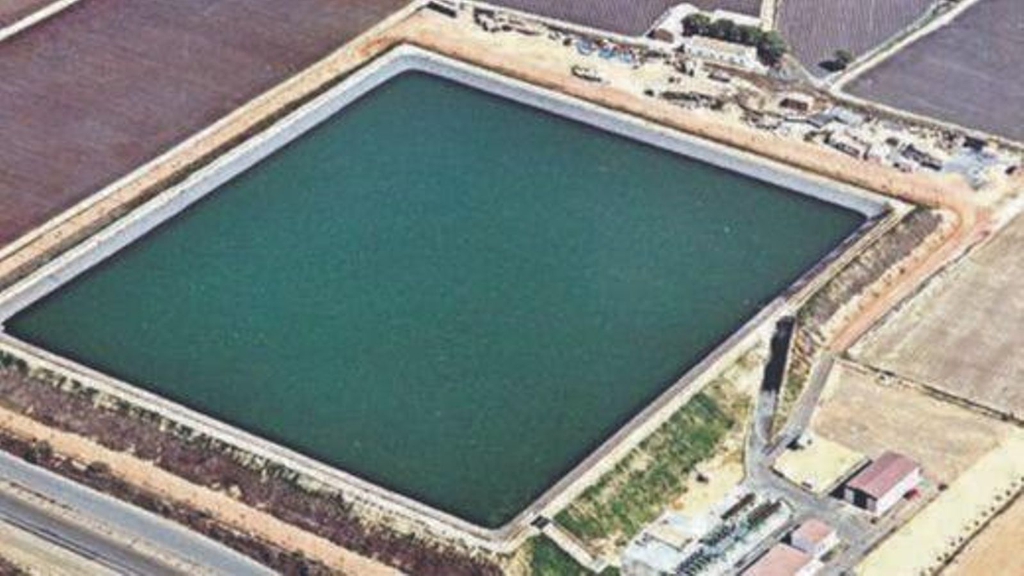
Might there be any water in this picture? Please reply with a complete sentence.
Yes, there is water in the image.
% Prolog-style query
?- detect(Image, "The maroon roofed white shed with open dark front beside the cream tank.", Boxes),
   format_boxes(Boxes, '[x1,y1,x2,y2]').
[841,450,925,517]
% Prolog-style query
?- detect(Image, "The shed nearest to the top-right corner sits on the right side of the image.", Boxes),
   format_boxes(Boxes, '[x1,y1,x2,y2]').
[967,133,994,153]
